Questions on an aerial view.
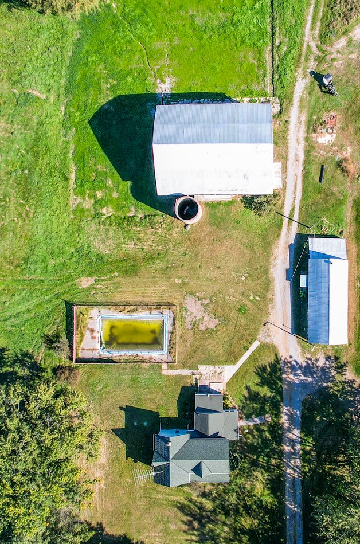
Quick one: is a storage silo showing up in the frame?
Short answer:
Yes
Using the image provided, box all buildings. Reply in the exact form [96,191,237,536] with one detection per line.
[152,103,274,196]
[151,393,240,488]
[300,239,347,345]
